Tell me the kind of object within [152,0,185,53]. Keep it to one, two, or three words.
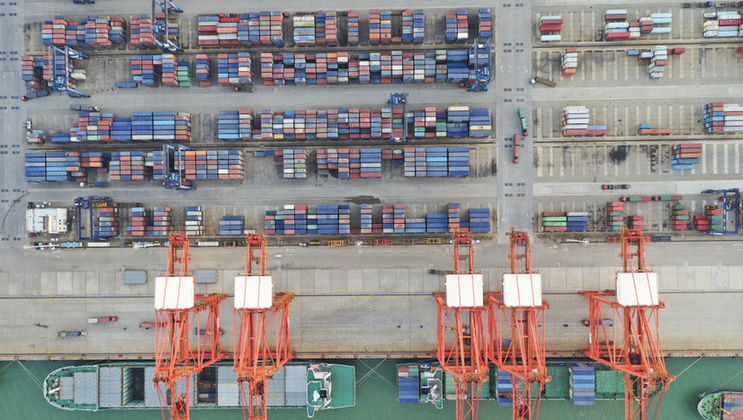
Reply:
crane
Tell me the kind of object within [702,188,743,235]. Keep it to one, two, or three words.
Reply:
crane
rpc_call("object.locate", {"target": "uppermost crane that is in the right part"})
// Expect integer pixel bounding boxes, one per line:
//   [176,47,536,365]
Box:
[465,38,492,91]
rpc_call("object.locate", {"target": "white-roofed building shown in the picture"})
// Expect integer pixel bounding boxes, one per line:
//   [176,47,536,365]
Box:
[25,208,72,235]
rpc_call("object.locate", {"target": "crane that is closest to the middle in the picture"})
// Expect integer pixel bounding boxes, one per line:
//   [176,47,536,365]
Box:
[386,87,410,141]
